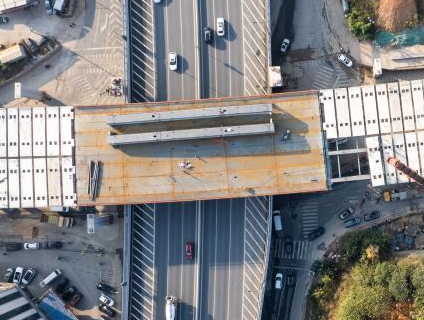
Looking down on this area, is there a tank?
No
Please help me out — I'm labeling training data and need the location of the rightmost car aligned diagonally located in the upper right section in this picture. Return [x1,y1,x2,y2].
[336,52,353,68]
